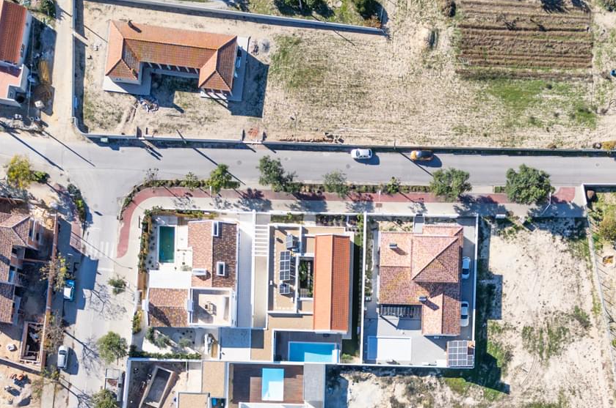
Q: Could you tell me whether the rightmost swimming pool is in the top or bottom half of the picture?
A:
bottom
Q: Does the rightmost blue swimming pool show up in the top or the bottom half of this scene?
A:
bottom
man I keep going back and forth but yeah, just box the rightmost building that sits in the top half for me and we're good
[103,21,250,102]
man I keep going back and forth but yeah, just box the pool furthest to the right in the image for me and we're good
[367,337,412,361]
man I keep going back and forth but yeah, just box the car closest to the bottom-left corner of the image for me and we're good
[57,348,70,370]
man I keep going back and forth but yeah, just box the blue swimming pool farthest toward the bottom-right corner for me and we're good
[287,342,337,362]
